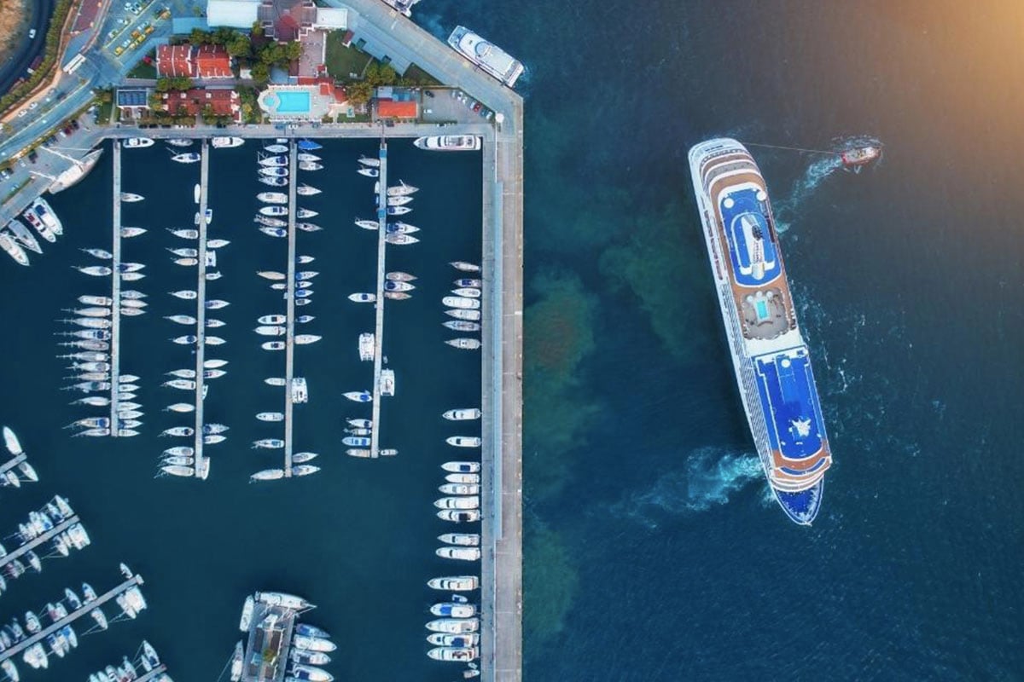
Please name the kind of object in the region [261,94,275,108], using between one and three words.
swimming pool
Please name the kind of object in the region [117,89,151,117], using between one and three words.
building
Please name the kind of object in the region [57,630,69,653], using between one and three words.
boat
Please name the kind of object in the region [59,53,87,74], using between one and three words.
bus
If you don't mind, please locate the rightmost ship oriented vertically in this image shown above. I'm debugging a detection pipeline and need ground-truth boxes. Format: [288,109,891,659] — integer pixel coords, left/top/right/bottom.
[687,136,833,527]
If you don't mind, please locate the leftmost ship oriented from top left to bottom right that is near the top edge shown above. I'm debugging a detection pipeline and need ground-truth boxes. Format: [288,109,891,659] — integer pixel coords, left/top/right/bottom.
[447,24,521,86]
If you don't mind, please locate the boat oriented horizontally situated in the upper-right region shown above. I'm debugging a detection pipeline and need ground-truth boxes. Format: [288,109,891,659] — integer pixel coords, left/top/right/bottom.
[840,146,883,167]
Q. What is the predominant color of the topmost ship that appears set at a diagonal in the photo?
white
